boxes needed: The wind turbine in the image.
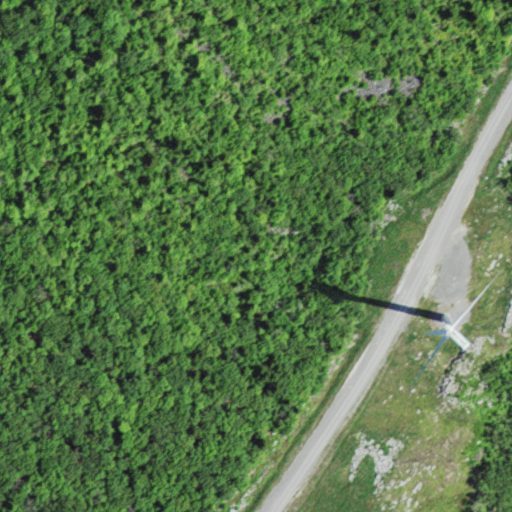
[420,273,502,376]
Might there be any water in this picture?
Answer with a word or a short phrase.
No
